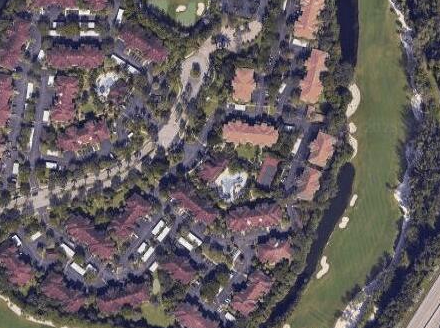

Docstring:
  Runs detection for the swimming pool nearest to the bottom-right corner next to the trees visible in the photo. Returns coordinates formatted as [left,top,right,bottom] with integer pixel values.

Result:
[216,168,249,202]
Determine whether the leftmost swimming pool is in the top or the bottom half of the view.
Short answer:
top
